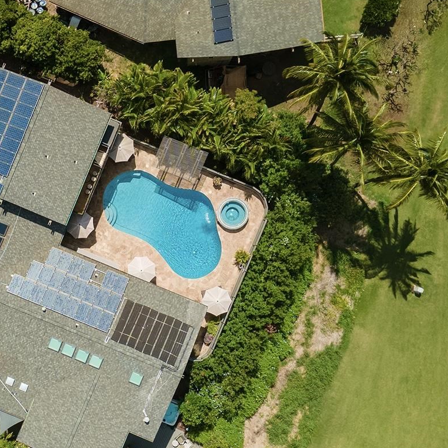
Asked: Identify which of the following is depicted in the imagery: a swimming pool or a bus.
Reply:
swimming pool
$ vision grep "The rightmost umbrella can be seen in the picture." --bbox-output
[202,287,229,315]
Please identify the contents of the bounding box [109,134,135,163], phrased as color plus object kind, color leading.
white umbrella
